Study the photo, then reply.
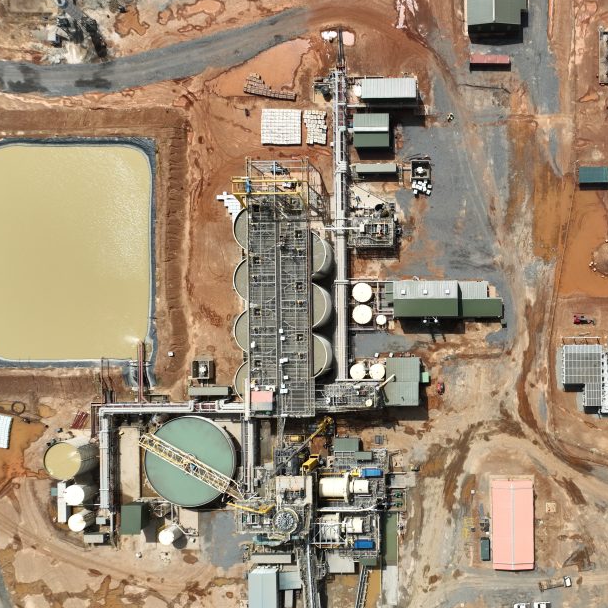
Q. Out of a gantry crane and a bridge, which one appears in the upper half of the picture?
gantry crane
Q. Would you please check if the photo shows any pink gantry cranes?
No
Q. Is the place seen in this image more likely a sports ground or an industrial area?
industrial area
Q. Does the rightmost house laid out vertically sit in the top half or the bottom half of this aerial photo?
bottom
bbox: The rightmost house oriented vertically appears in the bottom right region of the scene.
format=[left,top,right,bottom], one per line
[491,479,534,571]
